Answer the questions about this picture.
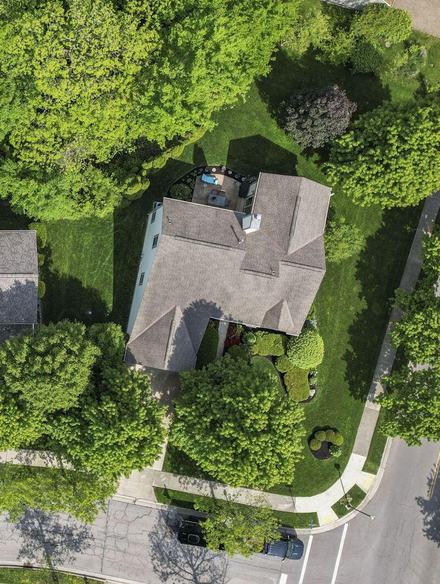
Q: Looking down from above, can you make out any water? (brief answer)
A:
No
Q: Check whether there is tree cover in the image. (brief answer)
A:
Yes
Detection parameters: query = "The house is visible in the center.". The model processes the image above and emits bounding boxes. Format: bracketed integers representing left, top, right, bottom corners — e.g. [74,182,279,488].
[122,172,332,373]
